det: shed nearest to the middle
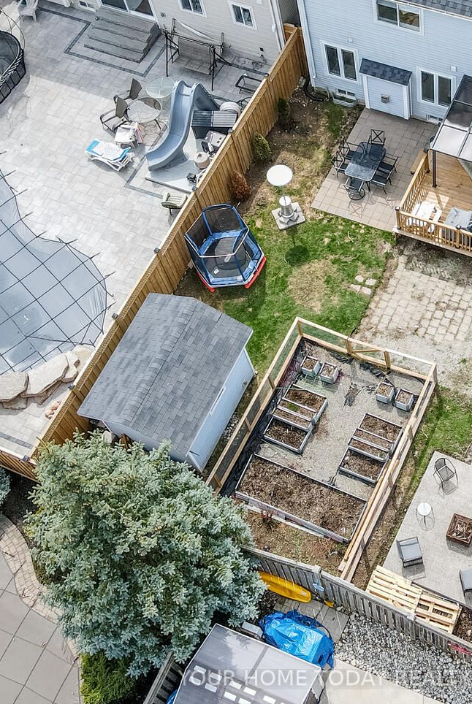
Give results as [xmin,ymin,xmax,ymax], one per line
[80,298,255,469]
